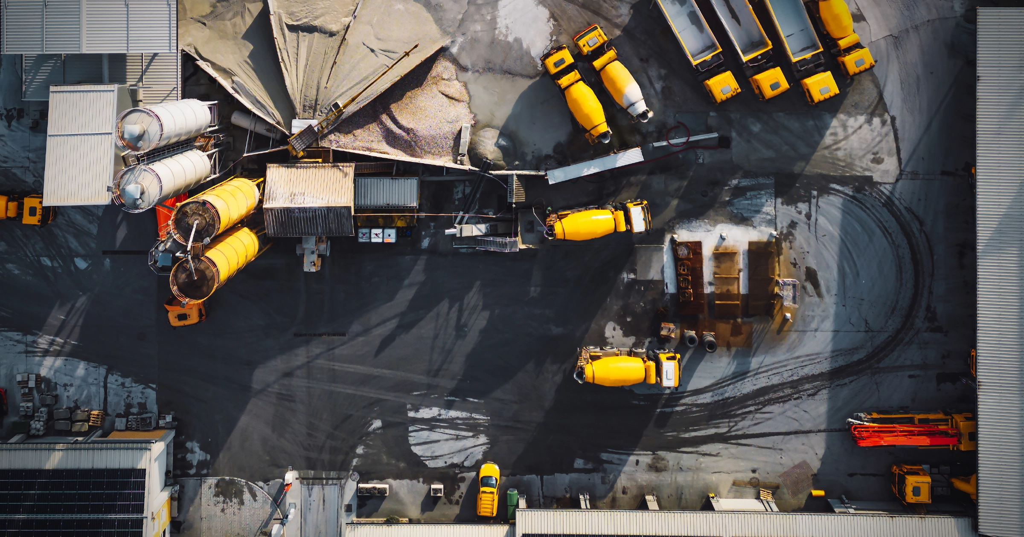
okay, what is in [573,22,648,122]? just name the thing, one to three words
truck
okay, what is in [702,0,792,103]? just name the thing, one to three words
truck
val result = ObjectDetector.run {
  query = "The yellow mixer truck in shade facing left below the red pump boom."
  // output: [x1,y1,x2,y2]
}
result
[882,462,975,505]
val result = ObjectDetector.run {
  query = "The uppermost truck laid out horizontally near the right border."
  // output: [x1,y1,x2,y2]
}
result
[846,410,975,453]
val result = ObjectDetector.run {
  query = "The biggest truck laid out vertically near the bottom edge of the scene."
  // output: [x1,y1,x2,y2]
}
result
[476,460,500,519]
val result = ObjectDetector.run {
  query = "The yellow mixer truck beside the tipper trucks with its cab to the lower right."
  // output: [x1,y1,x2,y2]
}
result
[807,0,877,79]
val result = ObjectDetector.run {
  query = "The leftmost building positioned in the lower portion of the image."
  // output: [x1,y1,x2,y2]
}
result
[0,421,182,537]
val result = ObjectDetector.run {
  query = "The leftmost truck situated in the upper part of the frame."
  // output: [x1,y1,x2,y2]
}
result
[0,192,53,226]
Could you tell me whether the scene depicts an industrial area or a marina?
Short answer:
industrial area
